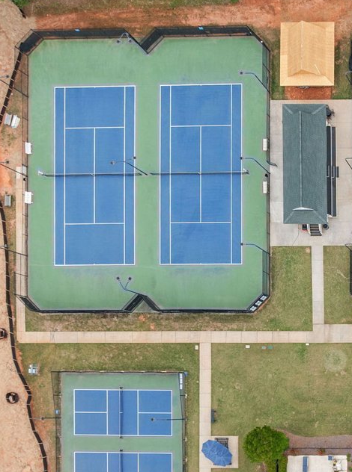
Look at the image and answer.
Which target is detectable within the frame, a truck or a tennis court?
tennis court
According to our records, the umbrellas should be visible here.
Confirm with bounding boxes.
[201,438,234,470]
